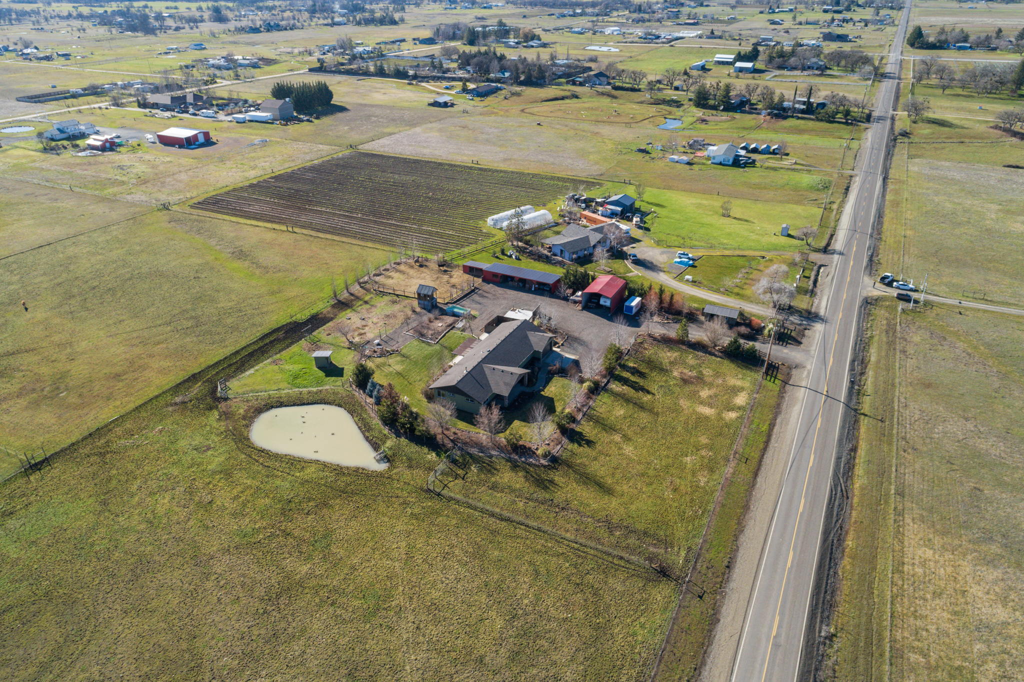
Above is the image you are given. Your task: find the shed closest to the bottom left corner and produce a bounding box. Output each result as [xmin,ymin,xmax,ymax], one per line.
[310,347,334,370]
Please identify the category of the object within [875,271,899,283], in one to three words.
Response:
vehicle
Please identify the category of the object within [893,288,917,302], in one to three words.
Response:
car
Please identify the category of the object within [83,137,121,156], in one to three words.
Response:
building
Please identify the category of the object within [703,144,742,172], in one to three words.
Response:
house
